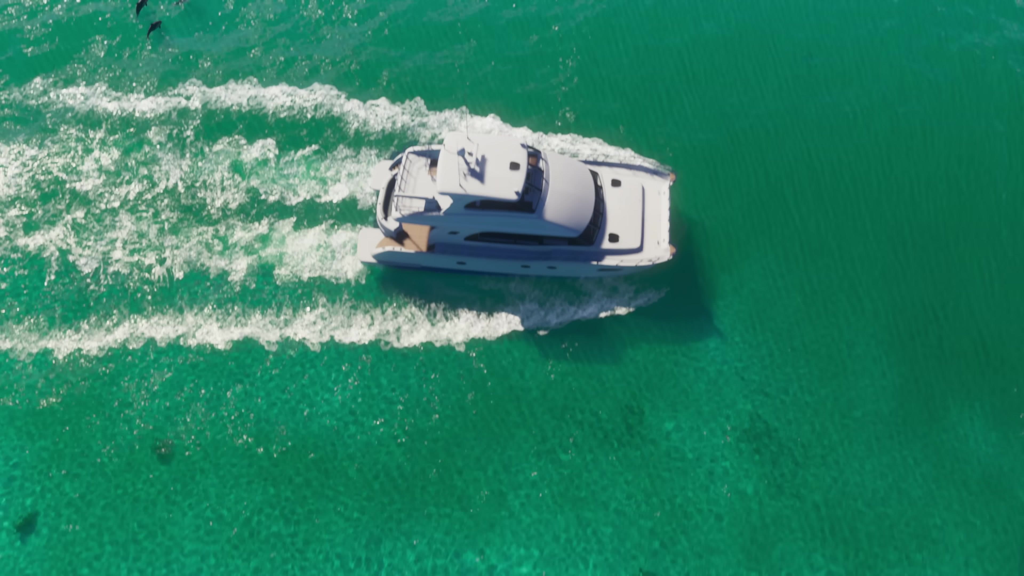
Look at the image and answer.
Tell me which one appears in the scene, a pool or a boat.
boat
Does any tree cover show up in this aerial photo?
No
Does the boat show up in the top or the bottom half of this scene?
top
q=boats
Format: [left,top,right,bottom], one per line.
[356,110,677,276]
